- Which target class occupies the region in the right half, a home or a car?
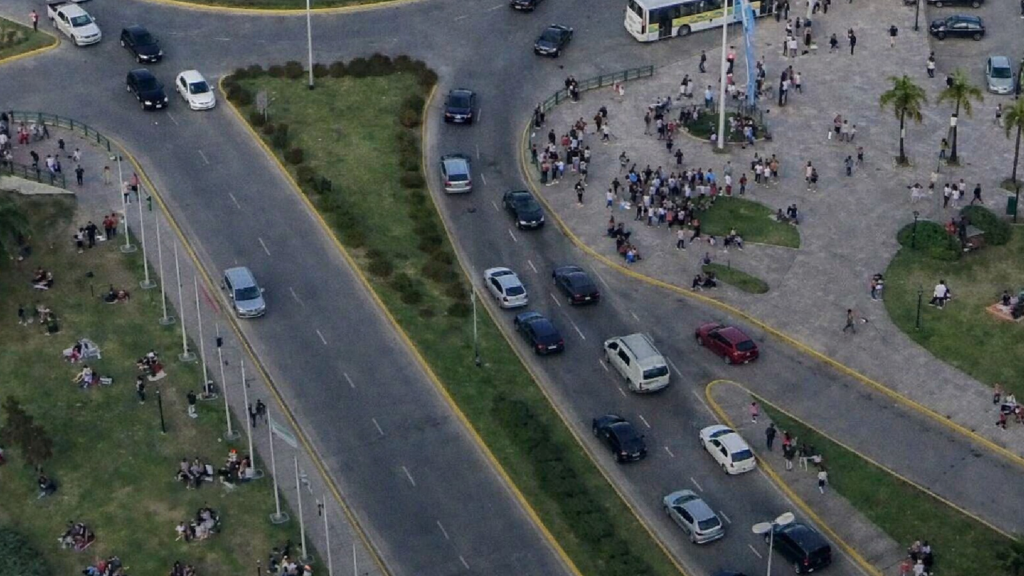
car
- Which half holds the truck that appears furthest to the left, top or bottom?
top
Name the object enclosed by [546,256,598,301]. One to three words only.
car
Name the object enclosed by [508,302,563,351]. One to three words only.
car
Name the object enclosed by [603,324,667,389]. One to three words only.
van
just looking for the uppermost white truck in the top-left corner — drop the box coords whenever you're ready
[45,0,99,42]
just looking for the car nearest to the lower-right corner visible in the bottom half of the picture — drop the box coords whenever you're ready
[756,506,831,570]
